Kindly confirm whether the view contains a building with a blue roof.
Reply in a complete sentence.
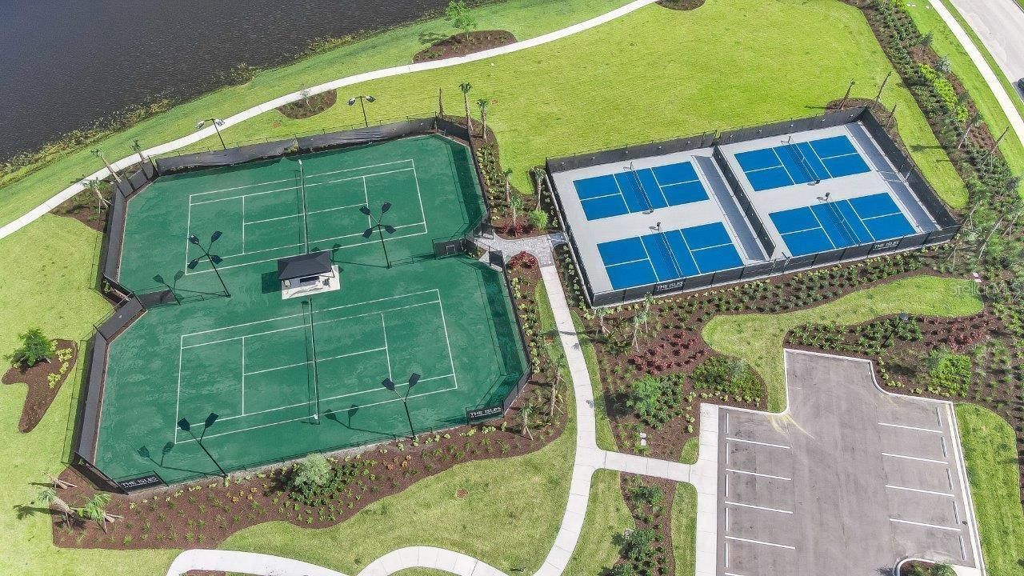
No, there isn't any building with a blue roof down there.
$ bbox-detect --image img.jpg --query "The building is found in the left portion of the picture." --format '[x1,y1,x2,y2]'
[277,250,340,299]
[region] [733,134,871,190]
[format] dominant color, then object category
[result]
blue sports court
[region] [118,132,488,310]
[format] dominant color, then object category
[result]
green tennis court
